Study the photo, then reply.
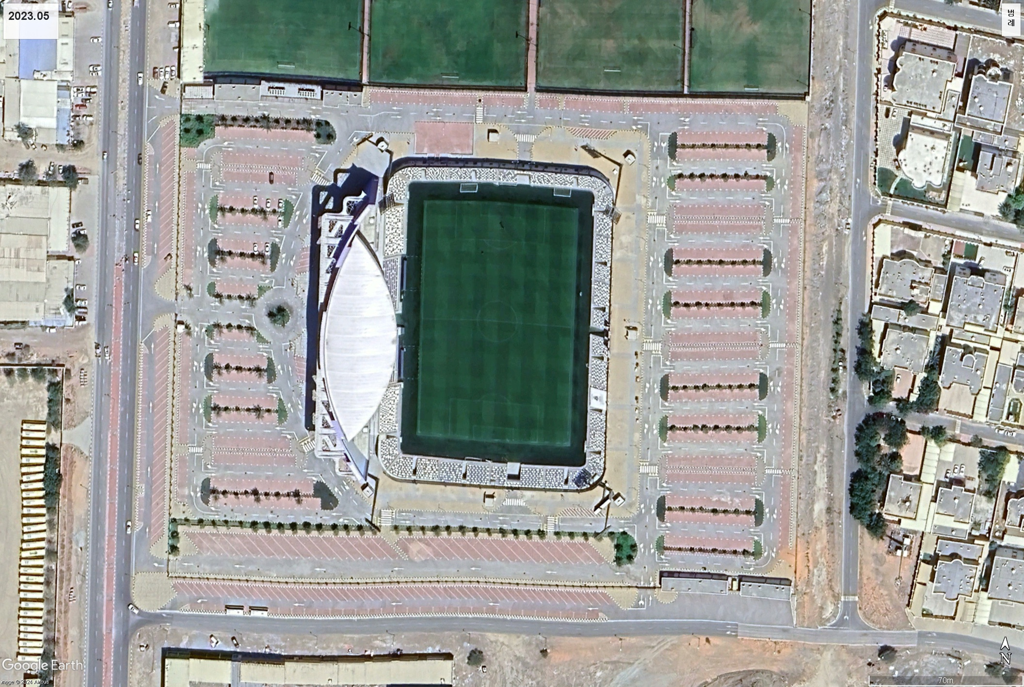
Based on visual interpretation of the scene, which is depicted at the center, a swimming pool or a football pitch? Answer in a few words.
football pitch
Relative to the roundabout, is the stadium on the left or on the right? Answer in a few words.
right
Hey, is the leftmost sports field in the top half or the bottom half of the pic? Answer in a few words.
top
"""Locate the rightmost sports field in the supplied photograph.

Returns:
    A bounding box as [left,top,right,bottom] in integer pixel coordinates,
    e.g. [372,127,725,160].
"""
[689,0,810,98]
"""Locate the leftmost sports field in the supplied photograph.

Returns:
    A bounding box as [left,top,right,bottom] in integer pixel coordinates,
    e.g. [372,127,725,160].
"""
[204,0,364,86]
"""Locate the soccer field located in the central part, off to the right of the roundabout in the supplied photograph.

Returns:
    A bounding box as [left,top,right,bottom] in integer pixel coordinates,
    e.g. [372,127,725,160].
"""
[405,184,591,467]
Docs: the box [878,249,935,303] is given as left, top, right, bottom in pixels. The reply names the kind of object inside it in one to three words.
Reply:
house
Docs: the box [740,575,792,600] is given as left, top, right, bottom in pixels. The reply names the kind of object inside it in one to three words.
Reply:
building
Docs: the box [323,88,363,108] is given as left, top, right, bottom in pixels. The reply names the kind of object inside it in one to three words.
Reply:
building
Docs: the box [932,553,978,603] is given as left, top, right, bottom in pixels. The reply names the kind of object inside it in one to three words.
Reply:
house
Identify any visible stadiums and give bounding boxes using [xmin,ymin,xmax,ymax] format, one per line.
[311,158,615,491]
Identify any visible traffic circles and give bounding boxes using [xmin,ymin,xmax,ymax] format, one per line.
[257,292,303,336]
